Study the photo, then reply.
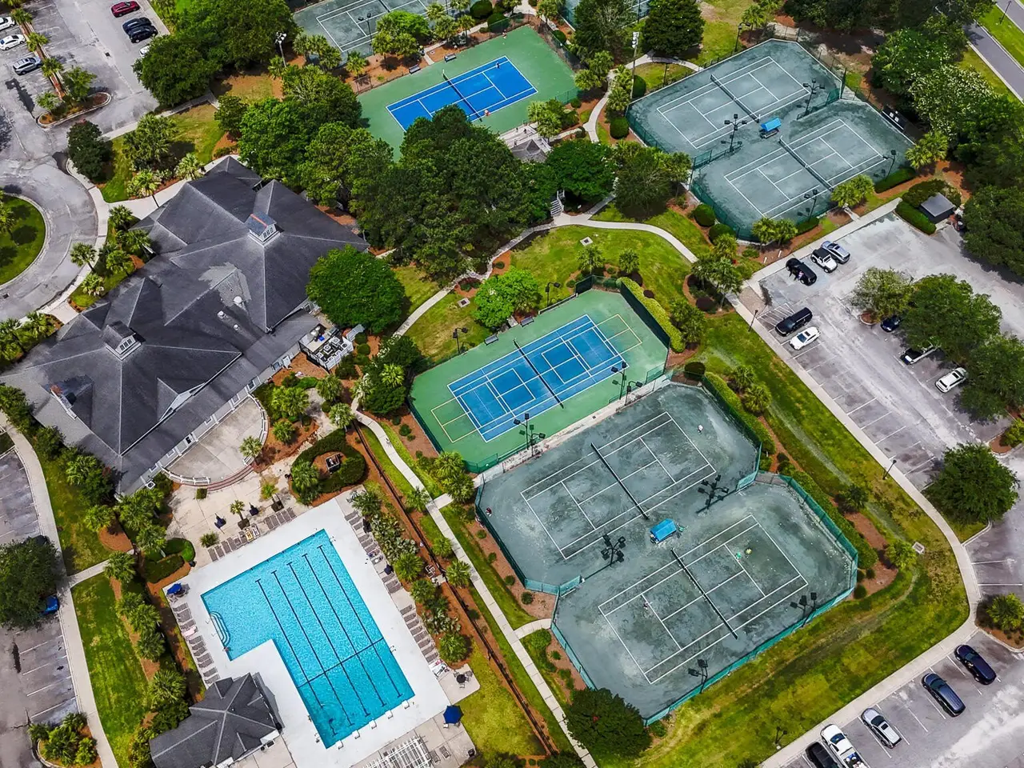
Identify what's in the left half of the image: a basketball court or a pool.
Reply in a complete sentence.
You can see a pool in the left half of the image.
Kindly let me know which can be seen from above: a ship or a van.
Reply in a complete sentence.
Of the two, only a van appears.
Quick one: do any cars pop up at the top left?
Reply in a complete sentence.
Yes, there is a car at the top left.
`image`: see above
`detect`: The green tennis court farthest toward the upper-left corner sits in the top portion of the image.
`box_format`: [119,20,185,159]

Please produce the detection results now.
[357,24,586,167]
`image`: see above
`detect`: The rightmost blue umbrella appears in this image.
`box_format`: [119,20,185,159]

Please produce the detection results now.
[443,705,462,725]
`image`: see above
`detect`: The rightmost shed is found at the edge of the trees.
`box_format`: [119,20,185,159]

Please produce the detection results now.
[920,192,955,222]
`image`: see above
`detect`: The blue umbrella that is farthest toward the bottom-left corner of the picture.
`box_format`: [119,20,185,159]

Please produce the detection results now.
[168,584,184,598]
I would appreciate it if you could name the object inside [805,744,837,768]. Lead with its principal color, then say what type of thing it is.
black car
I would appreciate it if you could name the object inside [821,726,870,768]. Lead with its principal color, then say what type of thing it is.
white truck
